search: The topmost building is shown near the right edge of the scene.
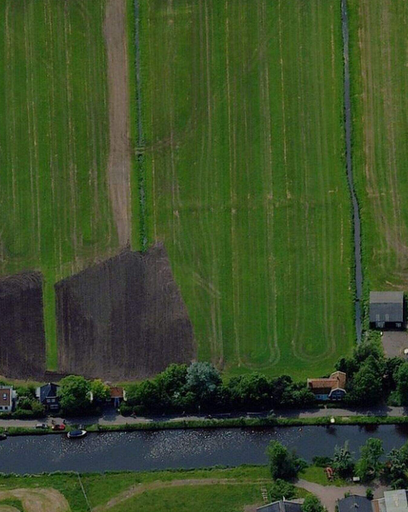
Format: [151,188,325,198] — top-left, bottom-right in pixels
[370,292,405,329]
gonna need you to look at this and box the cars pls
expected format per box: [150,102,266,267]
[52,423,66,429]
[35,422,49,428]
